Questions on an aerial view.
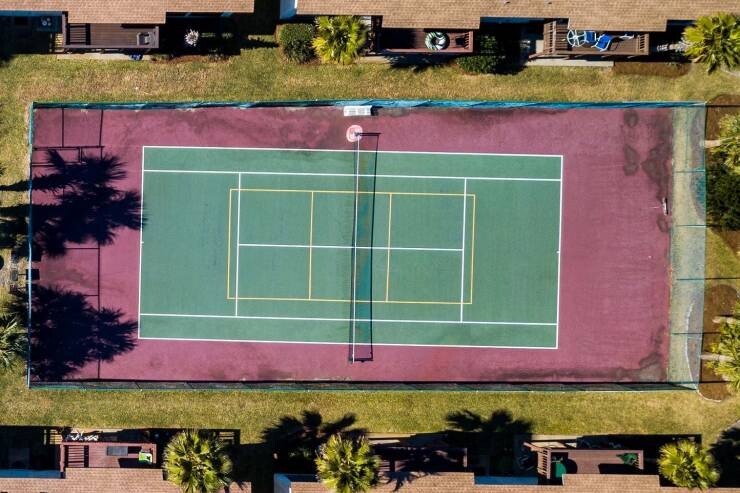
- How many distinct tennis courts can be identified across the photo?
1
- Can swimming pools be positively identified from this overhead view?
No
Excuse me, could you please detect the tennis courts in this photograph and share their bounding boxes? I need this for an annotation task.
[30,107,670,383]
